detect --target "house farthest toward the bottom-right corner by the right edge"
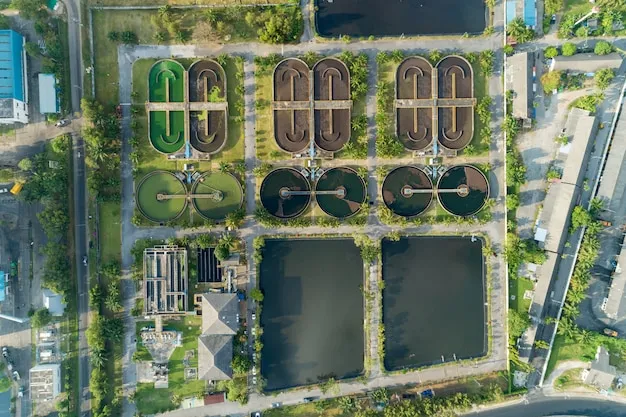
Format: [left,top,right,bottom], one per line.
[582,347,617,391]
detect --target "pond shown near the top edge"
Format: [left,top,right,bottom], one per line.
[316,0,488,39]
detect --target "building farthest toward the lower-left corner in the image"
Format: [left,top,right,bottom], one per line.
[31,365,61,399]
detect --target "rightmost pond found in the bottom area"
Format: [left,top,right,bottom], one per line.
[381,235,487,372]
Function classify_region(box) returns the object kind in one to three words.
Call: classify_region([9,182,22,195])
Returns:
vehicle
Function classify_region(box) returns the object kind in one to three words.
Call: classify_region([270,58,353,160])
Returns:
water tank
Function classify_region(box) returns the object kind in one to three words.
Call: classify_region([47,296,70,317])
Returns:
house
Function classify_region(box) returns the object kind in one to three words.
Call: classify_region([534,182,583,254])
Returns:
building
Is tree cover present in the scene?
Yes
